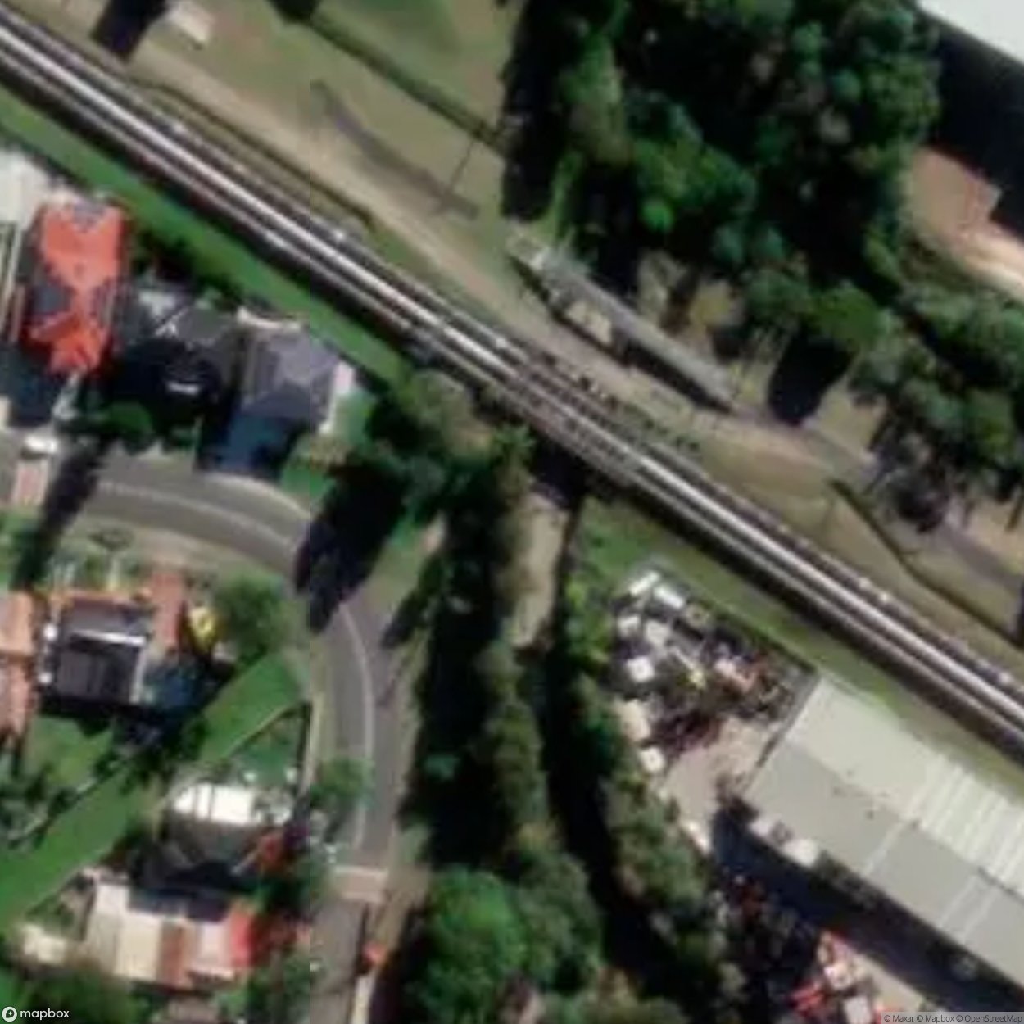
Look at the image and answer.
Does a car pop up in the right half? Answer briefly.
Yes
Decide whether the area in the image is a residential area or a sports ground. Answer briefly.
residential area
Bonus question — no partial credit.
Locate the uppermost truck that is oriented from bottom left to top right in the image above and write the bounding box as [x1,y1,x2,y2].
[626,567,663,598]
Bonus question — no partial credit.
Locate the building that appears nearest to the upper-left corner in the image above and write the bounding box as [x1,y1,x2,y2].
[164,0,211,40]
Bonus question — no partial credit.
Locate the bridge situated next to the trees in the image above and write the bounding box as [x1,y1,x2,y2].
[498,350,670,489]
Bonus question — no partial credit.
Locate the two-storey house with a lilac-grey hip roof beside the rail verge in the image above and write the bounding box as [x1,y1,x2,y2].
[235,303,358,432]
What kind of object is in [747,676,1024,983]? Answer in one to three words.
warehouse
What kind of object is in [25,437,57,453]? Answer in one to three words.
car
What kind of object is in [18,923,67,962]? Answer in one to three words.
shed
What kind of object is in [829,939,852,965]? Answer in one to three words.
car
